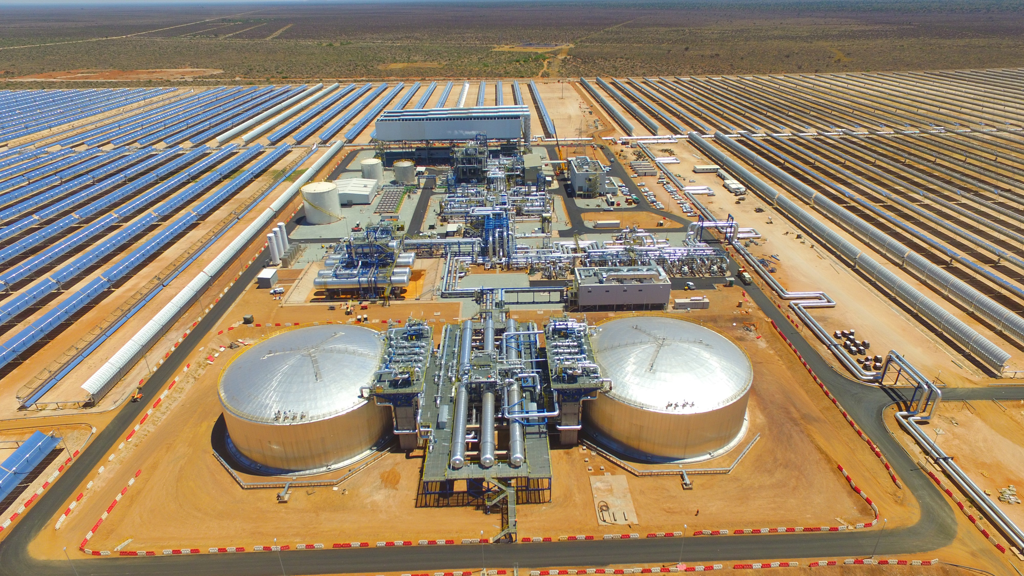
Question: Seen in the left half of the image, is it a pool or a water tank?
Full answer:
You can see a water tank in the left half of the image.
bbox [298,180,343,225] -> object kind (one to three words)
water tank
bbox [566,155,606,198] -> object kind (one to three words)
building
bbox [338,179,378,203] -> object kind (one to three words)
shed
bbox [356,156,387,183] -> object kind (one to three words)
water tank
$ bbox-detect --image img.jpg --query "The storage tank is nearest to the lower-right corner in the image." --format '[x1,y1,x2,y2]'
[577,312,753,468]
